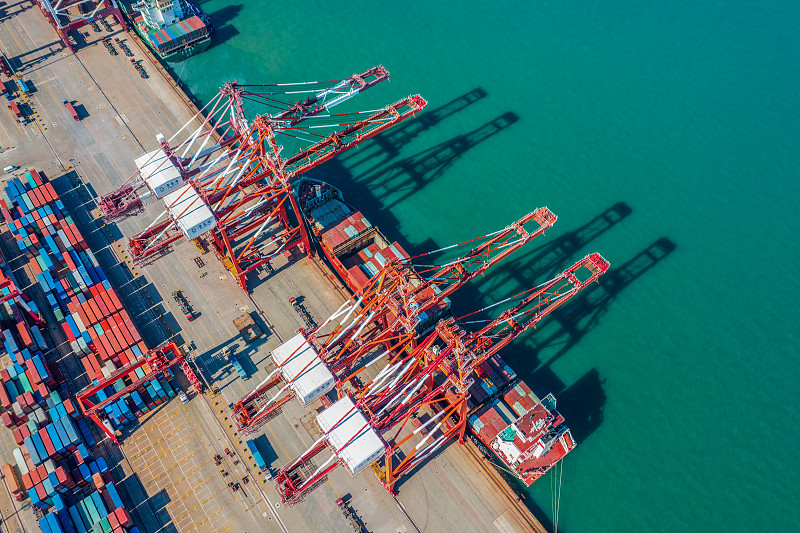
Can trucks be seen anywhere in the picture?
Yes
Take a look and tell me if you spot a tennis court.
No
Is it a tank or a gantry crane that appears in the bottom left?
gantry crane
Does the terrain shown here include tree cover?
No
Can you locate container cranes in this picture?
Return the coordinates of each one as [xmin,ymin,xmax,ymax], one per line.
[43,0,132,58]
[264,257,613,522]
[95,67,395,263]
[0,284,55,342]
[76,339,205,449]
[221,211,560,449]
[121,98,430,303]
